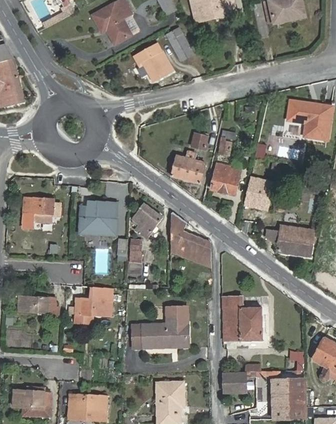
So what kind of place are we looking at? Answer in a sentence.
It's a residential area.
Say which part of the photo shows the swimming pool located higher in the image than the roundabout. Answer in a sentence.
Look in the top left portion of the view to spot the swimming pool located higher in the image than the roundabout.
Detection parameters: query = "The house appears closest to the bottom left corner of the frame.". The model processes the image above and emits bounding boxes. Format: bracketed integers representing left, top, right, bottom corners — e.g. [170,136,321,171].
[10,390,52,419]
